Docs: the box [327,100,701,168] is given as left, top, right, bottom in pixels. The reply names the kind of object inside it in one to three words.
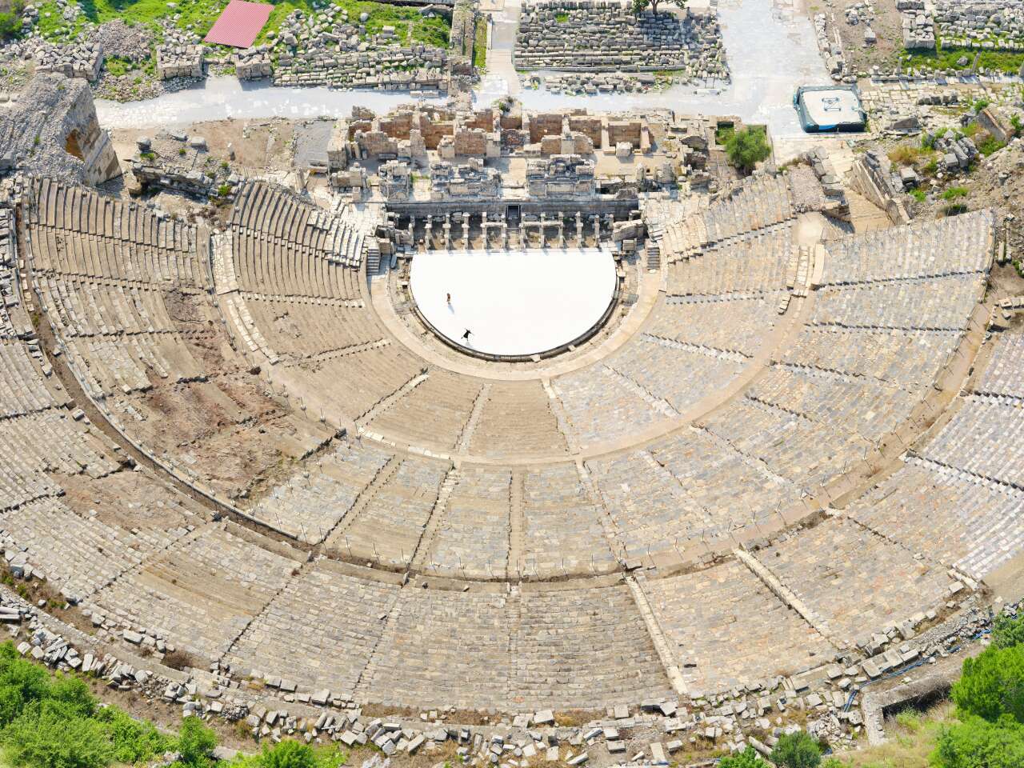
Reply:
building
